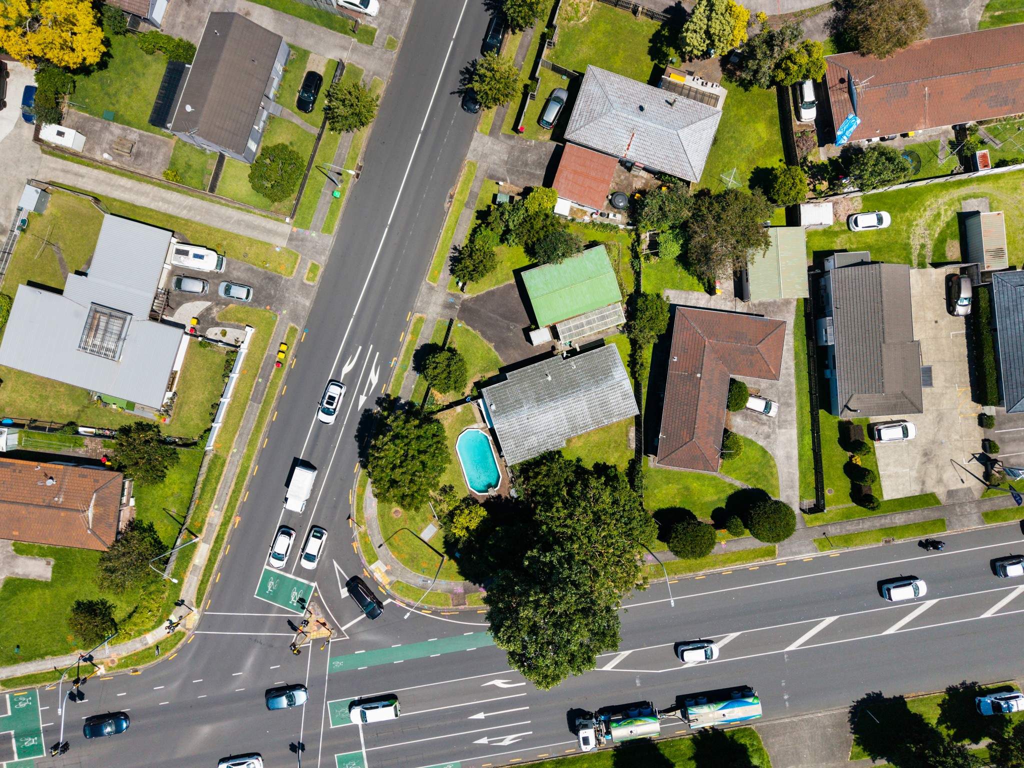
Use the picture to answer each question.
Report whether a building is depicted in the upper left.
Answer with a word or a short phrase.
Yes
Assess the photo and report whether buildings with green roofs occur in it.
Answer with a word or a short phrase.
Yes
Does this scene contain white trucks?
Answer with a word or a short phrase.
Yes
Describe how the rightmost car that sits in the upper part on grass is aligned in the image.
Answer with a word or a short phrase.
from side to side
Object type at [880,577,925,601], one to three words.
car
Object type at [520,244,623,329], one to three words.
building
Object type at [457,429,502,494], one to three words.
swimming pool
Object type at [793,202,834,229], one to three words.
shed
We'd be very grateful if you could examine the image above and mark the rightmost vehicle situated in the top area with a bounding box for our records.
[948,275,973,317]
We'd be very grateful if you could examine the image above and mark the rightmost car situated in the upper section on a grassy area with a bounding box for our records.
[846,209,890,233]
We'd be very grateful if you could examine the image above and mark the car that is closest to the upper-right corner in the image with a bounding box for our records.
[795,79,820,124]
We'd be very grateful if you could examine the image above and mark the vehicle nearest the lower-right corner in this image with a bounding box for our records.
[976,688,1024,718]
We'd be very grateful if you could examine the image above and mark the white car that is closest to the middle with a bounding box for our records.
[317,379,348,425]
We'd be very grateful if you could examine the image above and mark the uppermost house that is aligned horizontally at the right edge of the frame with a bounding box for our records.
[818,23,1024,147]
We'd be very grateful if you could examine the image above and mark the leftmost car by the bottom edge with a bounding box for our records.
[84,710,133,738]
